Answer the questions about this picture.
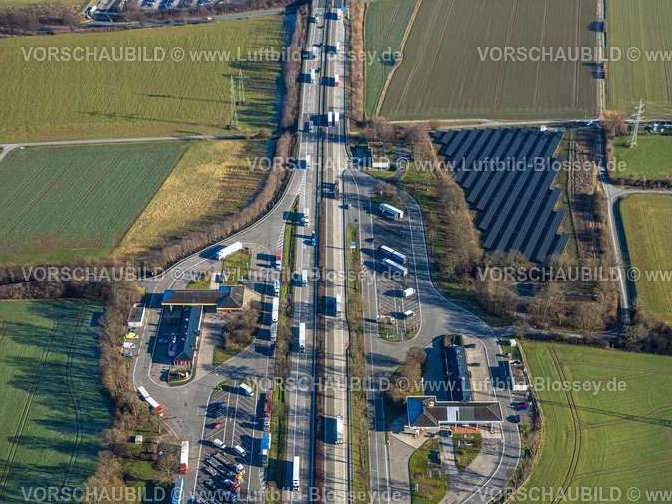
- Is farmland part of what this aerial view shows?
Yes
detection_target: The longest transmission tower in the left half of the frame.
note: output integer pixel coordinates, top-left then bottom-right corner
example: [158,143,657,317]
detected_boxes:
[227,75,239,130]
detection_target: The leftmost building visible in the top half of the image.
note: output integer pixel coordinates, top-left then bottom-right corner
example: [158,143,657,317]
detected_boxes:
[368,142,389,170]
